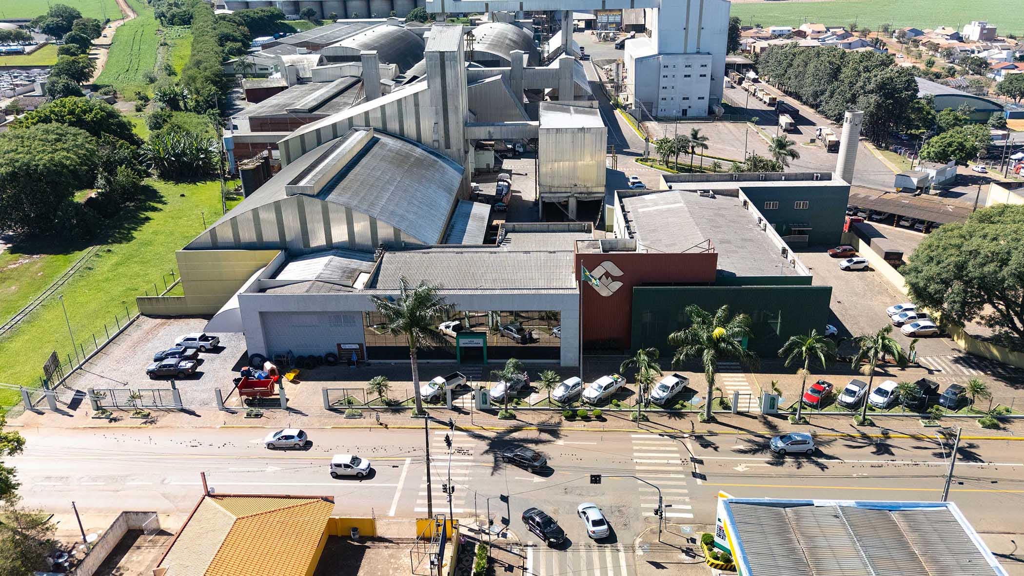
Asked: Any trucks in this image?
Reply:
Yes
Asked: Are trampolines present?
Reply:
No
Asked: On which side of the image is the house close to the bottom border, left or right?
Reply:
left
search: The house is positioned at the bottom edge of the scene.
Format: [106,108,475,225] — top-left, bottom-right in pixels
[147,492,342,576]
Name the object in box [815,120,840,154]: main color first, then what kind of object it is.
white truck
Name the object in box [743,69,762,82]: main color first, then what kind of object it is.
white vehicle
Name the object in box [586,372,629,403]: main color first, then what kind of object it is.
white truck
